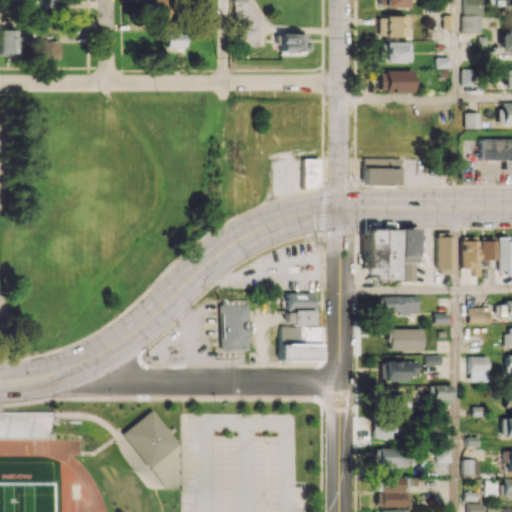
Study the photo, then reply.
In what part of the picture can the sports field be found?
bottom left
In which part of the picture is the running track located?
bottom left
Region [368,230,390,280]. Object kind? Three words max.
building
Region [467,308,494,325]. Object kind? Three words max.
house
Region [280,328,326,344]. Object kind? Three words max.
building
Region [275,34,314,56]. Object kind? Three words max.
house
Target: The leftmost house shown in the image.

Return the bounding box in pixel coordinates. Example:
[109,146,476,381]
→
[2,30,20,55]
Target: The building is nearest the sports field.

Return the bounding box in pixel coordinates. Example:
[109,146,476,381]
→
[126,411,182,468]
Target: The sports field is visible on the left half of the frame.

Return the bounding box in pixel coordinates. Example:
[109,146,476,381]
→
[0,457,62,512]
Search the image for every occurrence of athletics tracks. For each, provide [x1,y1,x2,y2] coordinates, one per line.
[0,440,107,512]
